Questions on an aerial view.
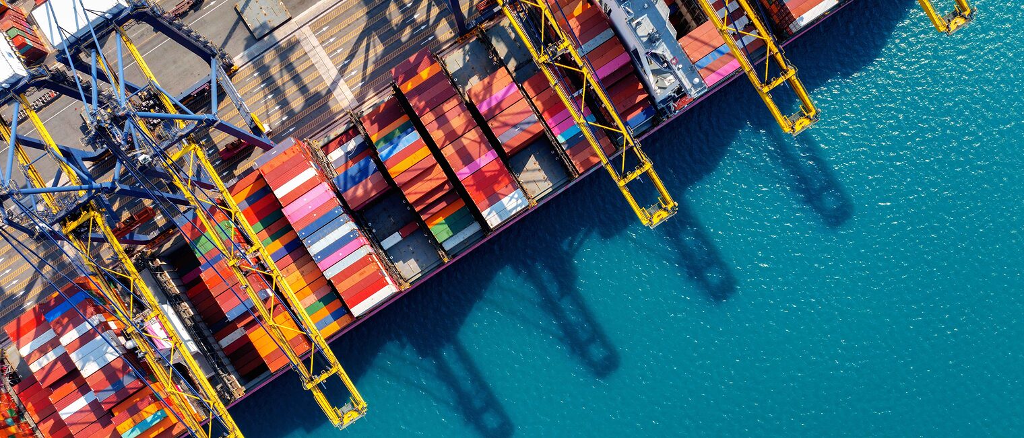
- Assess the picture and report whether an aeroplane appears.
No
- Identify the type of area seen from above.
port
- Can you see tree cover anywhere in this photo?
No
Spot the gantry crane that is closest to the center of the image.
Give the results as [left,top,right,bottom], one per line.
[448,0,682,232]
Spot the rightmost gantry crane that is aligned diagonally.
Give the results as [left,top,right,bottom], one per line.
[696,0,823,140]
